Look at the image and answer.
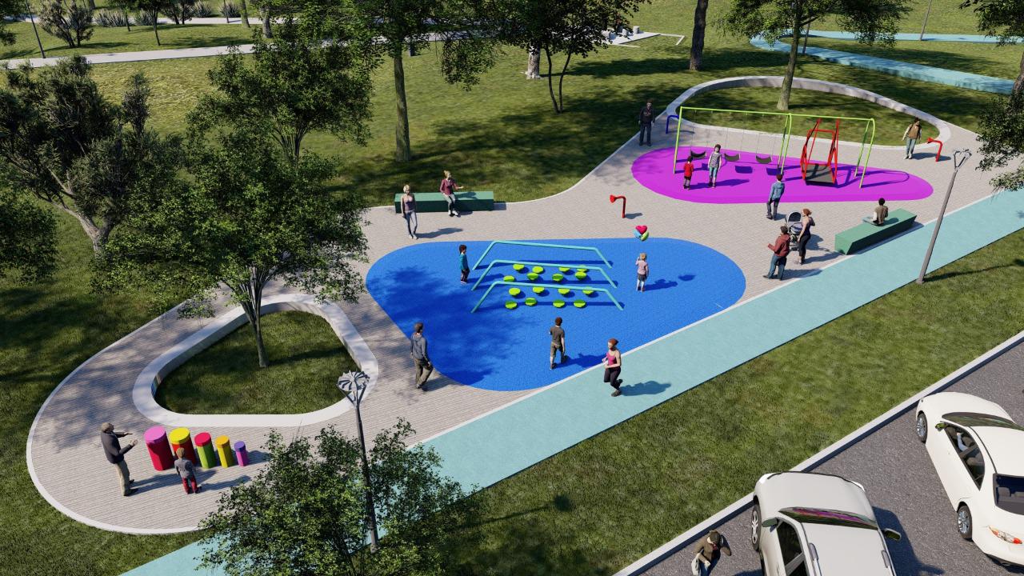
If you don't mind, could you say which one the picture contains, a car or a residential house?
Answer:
car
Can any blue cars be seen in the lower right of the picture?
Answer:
No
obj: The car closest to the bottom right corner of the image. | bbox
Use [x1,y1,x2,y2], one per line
[920,395,1024,572]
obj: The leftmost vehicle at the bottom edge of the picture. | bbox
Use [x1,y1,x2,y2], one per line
[753,472,895,576]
